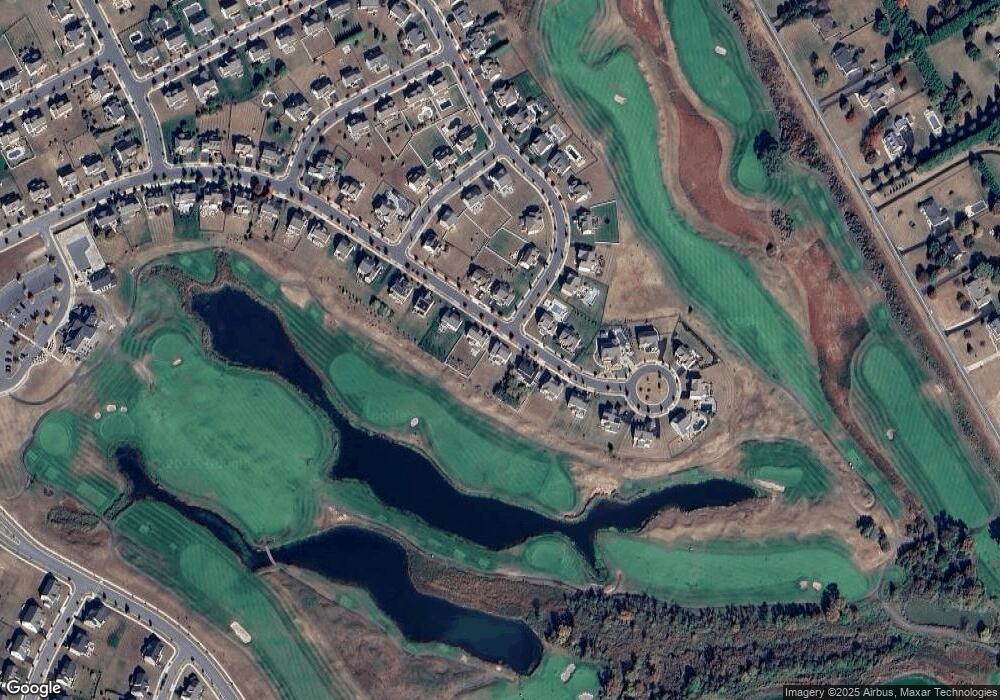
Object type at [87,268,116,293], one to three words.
barn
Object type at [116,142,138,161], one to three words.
house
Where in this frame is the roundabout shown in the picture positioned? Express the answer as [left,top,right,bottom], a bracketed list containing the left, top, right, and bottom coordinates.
[629,364,680,412]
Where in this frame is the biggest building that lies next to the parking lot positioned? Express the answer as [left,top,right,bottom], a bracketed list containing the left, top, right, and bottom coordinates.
[58,303,100,347]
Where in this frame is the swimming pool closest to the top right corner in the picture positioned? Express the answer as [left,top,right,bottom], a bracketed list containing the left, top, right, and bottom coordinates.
[924,112,944,133]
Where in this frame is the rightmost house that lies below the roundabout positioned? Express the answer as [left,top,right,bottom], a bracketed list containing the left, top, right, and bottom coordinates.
[671,413,700,438]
